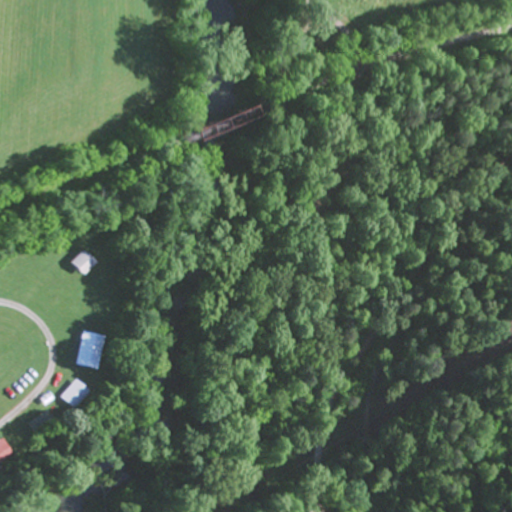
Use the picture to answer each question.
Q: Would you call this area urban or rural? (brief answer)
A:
rural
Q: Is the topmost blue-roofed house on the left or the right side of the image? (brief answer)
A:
left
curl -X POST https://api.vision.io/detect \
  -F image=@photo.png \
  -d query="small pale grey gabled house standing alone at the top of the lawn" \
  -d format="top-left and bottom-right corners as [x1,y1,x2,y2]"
[71,250,96,276]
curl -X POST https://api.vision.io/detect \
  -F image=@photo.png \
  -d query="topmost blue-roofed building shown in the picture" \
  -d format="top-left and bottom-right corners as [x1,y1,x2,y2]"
[76,331,105,370]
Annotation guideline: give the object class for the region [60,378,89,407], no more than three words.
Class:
house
